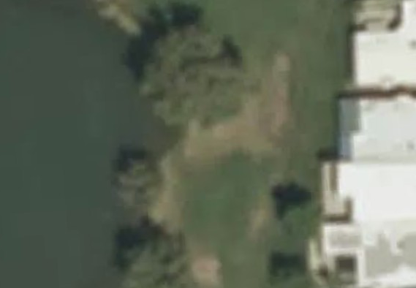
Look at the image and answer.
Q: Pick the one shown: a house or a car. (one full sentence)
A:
Visible in the photo is a house.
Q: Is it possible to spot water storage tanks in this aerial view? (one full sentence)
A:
No, no water storage tank can be seen from above.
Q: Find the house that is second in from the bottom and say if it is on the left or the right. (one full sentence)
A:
The house that is second in from the bottom sits on the right side.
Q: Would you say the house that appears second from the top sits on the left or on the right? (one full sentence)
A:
The house that appears second from the top is on the right side of the image.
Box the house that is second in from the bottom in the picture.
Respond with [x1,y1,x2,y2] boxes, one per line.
[322,162,416,224]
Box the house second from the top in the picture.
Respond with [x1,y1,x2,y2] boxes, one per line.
[339,97,416,161]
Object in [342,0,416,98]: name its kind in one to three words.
house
